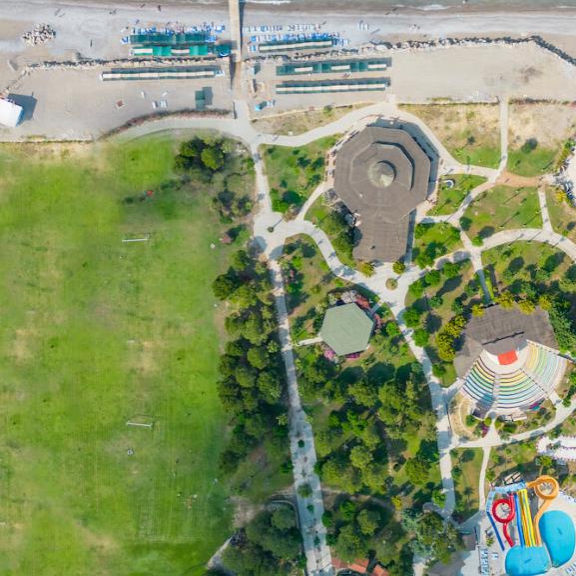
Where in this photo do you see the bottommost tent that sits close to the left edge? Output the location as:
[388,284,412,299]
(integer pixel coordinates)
[0,99,29,130]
